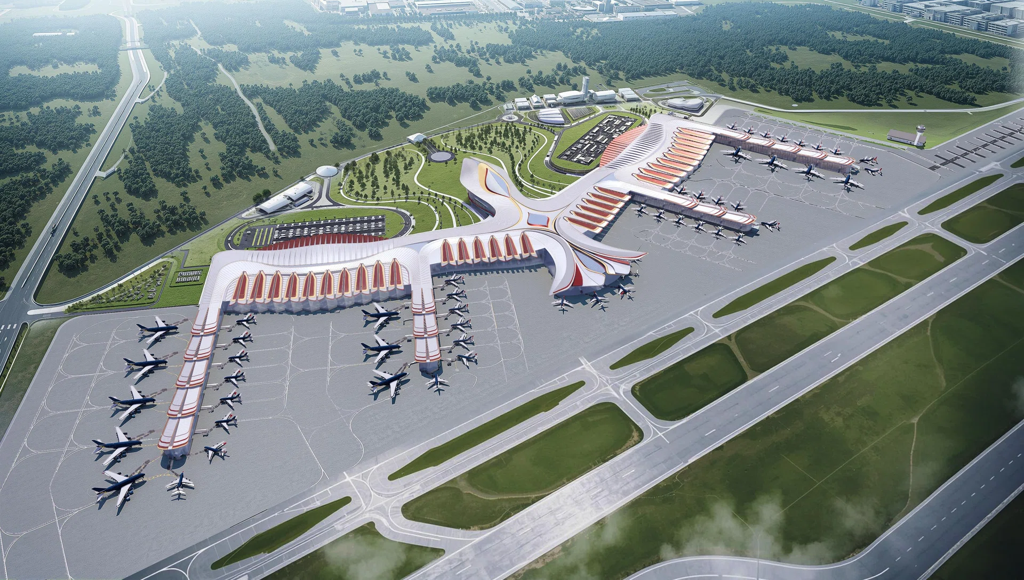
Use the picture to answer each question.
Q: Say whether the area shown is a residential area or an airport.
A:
airport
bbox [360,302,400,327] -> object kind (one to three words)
airplane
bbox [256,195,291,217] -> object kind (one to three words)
hangar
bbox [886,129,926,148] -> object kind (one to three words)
shed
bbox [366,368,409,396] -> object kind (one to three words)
airplane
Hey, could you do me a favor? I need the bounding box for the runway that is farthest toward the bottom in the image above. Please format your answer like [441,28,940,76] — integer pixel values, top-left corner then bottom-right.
[628,422,1024,580]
